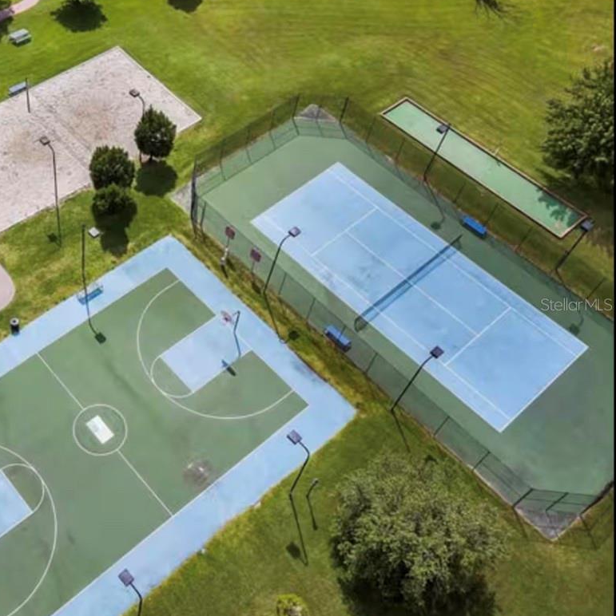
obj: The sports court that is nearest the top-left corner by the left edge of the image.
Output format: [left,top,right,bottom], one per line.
[0,45,207,232]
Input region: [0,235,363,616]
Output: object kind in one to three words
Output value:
basketball court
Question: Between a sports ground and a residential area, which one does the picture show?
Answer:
sports ground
